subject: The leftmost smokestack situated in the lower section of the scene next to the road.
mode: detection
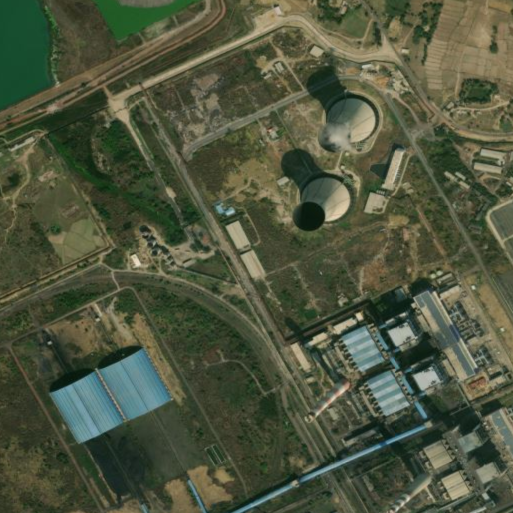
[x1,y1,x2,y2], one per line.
[307,379,350,425]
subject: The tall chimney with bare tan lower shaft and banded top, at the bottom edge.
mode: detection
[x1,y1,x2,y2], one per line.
[394,473,434,513]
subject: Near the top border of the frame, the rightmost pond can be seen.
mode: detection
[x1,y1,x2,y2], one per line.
[94,0,200,40]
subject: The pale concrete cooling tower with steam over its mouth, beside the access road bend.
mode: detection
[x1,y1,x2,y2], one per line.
[318,91,382,153]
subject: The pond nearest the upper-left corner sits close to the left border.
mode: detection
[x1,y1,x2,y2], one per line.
[0,0,54,109]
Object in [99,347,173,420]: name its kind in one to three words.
shed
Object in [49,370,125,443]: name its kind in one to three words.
shed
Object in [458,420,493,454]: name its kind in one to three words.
building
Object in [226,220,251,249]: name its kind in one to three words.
building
